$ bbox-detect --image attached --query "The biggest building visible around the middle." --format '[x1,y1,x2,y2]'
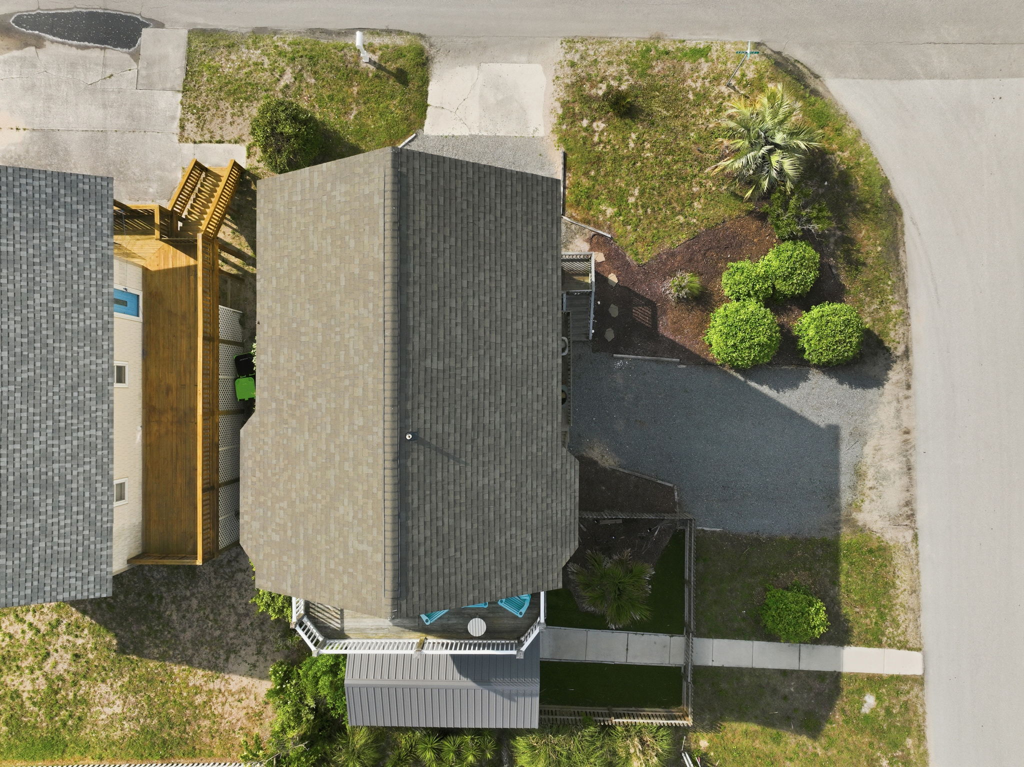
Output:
[240,146,579,621]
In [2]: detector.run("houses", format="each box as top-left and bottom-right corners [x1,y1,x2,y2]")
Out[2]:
[0,166,145,608]
[240,146,579,621]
